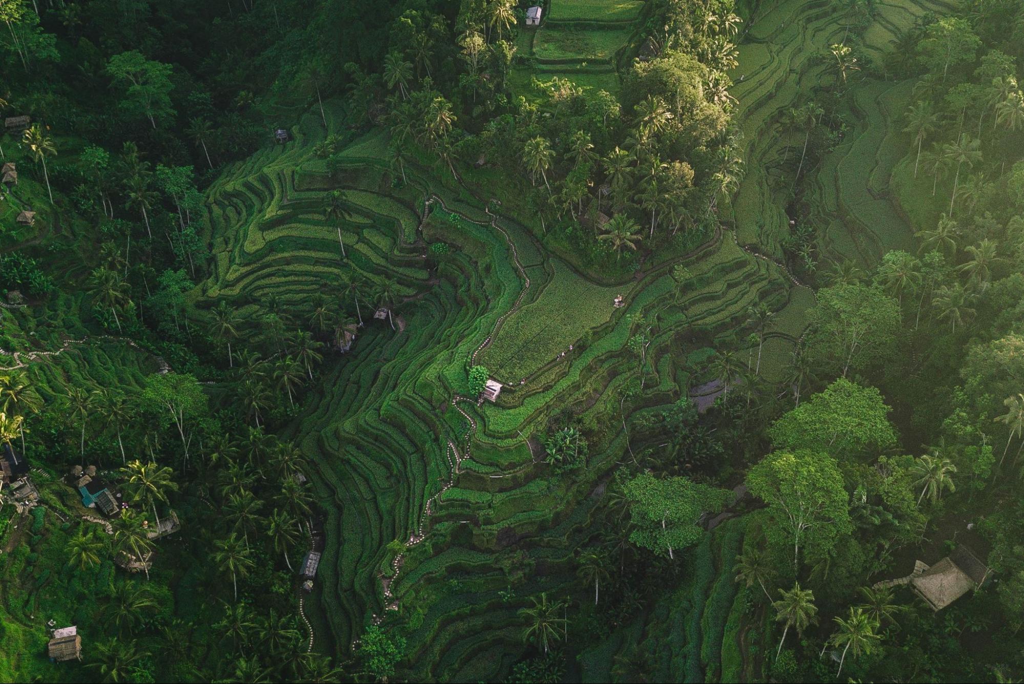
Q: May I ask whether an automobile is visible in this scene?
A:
No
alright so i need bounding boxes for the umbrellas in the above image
[71,466,86,477]
[85,466,100,477]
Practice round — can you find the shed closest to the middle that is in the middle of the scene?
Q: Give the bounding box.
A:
[472,384,504,412]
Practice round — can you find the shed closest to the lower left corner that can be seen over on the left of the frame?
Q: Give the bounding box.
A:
[44,626,81,658]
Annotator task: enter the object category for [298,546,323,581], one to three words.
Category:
shed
